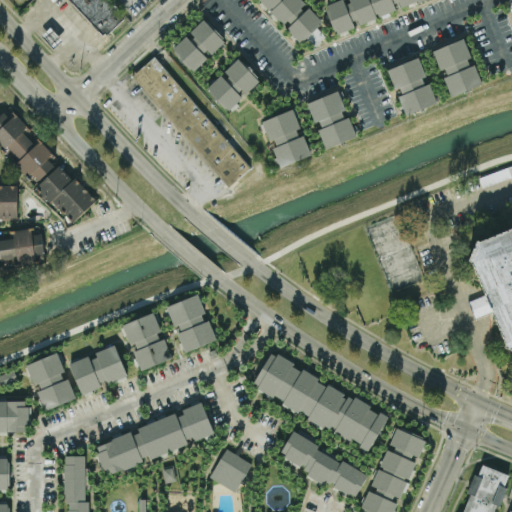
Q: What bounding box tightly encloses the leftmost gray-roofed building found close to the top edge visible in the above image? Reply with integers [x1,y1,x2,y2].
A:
[70,0,124,35]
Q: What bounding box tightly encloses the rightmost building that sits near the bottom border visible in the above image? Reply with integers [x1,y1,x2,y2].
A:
[462,464,508,512]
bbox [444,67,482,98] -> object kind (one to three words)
house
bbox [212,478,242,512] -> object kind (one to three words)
swimming pool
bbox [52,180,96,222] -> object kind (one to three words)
house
